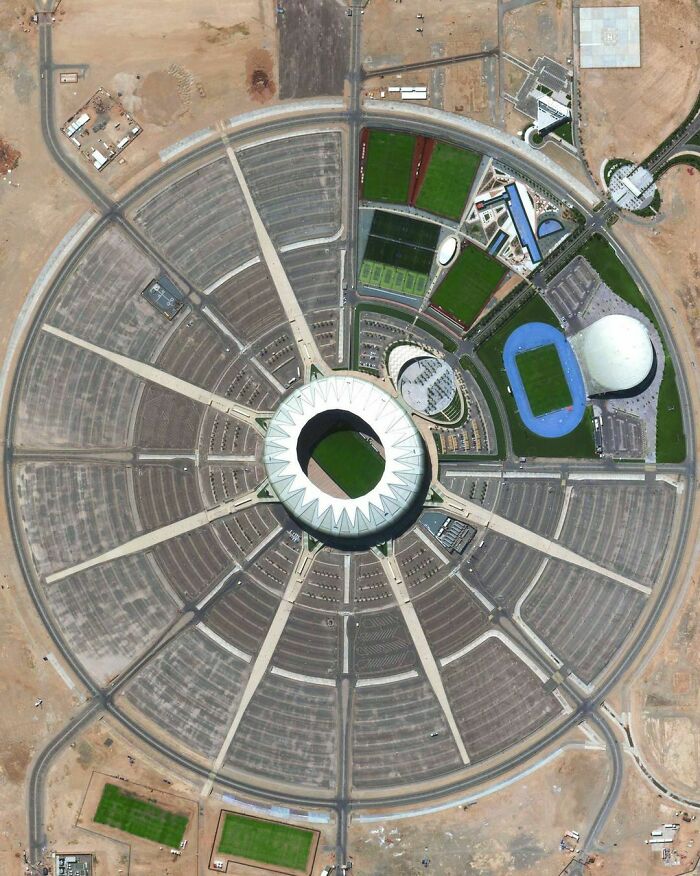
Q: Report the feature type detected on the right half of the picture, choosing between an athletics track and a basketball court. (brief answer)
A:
athletics track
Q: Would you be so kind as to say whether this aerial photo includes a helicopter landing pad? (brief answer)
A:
Yes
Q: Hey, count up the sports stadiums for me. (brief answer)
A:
2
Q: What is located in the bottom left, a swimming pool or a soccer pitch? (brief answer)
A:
soccer pitch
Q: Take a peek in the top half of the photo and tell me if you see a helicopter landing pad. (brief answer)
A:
Yes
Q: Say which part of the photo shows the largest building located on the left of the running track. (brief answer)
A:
center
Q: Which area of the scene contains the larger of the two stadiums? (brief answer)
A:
center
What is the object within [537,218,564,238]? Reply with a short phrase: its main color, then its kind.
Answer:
blue swimming pool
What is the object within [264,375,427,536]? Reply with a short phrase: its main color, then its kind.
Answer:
white stadium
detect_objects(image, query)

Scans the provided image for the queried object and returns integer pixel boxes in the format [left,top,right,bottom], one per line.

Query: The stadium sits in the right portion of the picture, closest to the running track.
[568,317,658,397]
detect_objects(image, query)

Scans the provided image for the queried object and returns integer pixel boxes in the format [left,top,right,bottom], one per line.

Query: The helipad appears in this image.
[579,7,640,68]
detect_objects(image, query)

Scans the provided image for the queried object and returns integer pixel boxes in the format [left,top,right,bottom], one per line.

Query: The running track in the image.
[502,323,586,437]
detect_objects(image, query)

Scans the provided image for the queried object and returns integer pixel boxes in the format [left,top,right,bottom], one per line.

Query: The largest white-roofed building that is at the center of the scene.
[390,346,438,390]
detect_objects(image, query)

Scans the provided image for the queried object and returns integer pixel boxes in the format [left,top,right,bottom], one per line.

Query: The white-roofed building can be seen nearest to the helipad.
[538,97,572,133]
